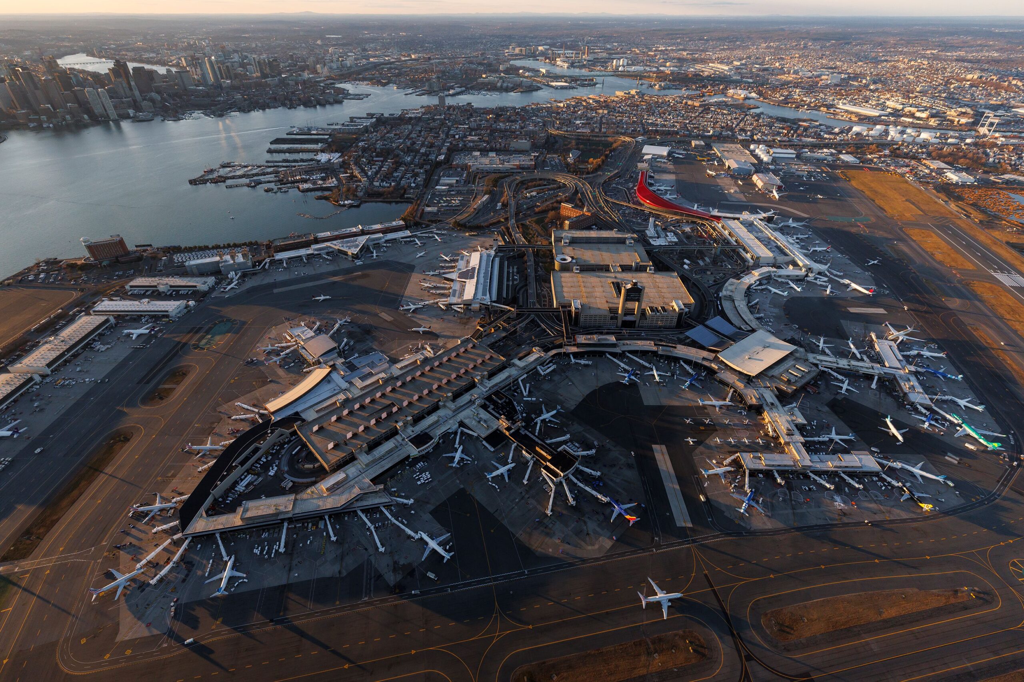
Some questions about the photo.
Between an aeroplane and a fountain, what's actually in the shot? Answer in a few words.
aeroplane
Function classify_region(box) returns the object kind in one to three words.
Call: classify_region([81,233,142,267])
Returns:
building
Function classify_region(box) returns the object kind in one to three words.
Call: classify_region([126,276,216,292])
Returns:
hangar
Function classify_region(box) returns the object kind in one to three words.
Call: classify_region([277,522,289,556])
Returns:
jet bridge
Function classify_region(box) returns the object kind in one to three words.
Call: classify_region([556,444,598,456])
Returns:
jet bridge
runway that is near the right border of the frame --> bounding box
[925,221,1024,314]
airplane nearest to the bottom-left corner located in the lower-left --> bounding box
[91,568,146,598]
